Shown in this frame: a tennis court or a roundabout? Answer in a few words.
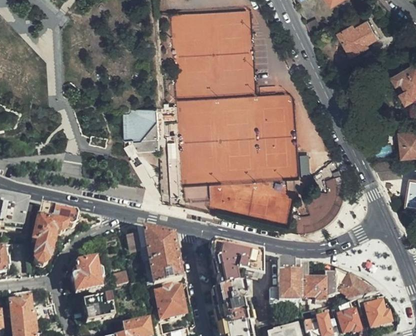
tennis court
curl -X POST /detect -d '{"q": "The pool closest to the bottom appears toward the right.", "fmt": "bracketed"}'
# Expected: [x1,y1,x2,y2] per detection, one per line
[376,144,394,159]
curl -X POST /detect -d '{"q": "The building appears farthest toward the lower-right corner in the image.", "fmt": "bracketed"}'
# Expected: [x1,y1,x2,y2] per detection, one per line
[364,298,396,332]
